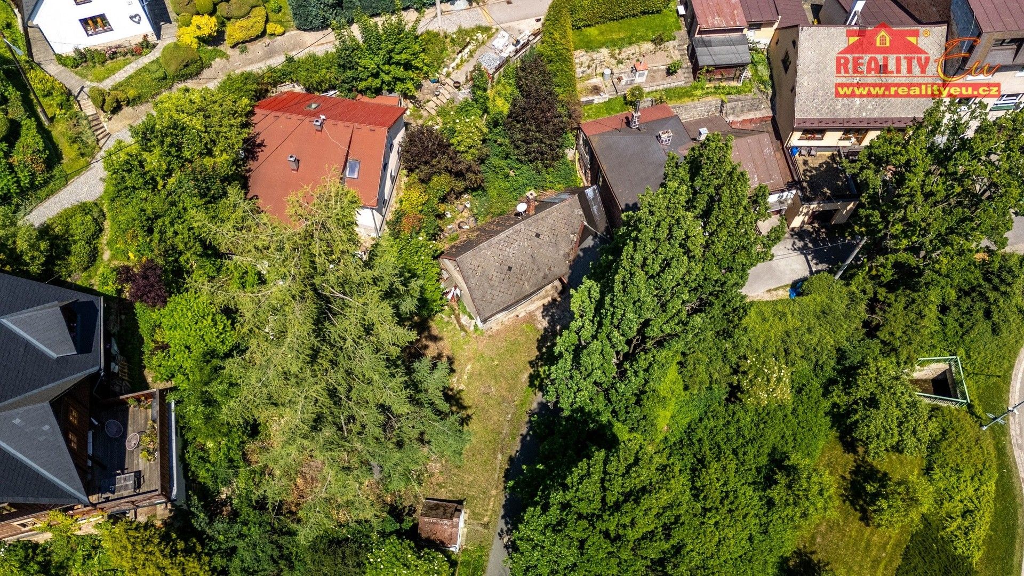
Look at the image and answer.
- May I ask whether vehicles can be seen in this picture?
No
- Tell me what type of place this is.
residential area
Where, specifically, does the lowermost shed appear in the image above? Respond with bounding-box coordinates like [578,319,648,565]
[418,501,466,557]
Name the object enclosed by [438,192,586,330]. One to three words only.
house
